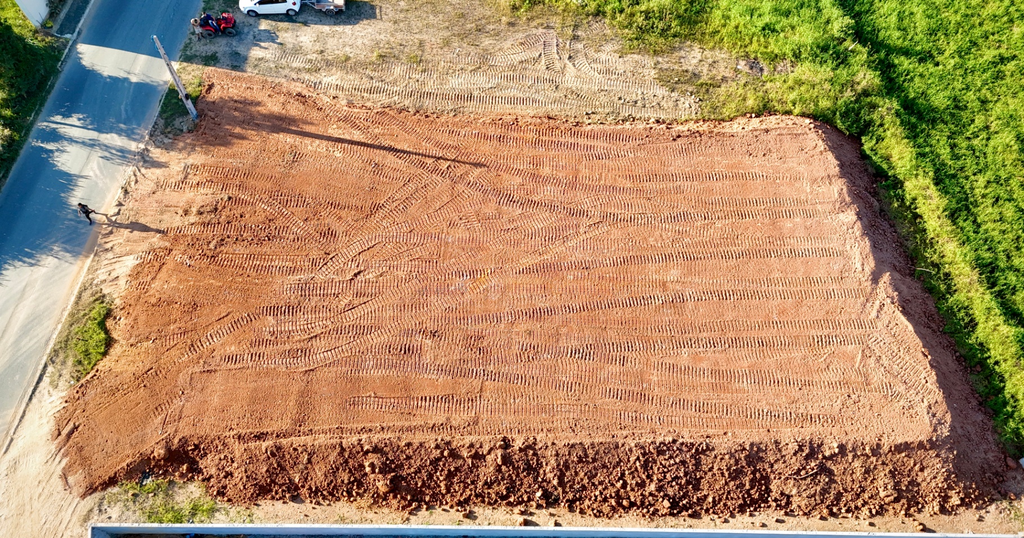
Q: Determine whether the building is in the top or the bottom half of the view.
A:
top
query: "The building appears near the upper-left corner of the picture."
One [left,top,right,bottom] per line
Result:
[10,0,53,31]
